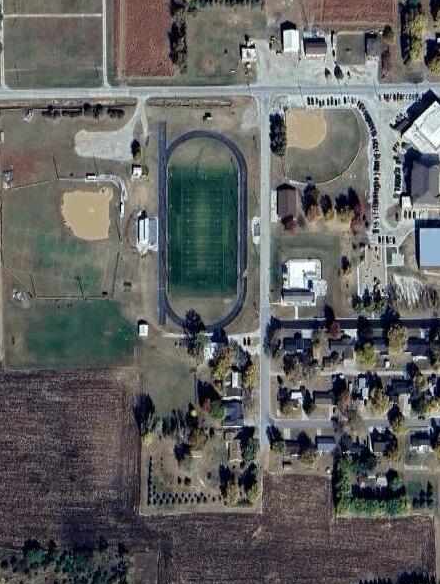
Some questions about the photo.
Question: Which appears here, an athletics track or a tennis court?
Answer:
athletics track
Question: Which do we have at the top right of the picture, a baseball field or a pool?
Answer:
baseball field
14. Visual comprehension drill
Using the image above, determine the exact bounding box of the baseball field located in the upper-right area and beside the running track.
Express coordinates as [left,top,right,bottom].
[281,108,364,185]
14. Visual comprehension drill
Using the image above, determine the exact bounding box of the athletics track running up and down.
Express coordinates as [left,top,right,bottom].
[159,121,248,331]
